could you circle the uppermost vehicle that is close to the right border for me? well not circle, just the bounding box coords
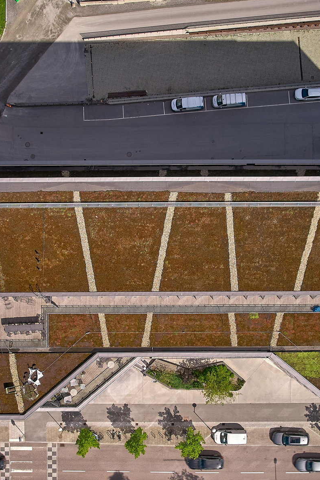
[294,87,320,102]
